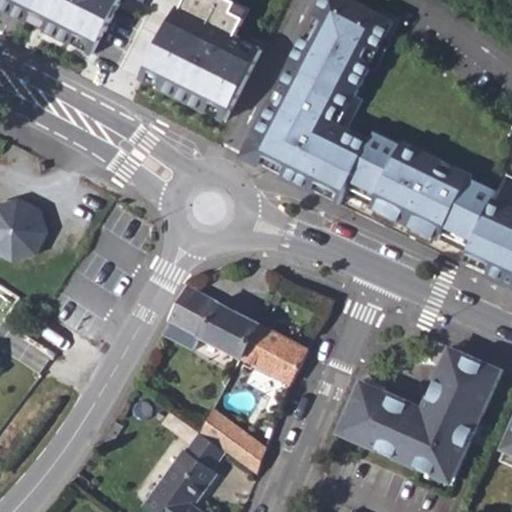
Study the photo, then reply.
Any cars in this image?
Yes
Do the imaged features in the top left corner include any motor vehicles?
Yes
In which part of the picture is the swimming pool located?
bottom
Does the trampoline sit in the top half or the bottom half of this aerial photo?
bottom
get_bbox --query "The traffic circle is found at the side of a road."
[160,156,270,282]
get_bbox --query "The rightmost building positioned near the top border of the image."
[240,0,396,202]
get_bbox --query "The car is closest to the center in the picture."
[302,228,326,244]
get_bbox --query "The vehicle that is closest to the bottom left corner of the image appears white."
[41,330,70,351]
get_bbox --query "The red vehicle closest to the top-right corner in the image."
[333,223,355,238]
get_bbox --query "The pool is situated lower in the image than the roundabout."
[224,392,256,413]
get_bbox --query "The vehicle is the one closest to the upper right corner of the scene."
[473,71,492,89]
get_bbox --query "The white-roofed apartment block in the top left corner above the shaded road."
[0,0,114,54]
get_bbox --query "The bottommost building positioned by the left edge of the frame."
[0,192,50,266]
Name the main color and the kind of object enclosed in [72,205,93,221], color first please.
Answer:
white car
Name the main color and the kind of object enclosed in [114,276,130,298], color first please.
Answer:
white car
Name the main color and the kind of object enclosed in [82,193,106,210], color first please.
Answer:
gray car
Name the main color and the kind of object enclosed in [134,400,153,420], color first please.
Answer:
gray trampoline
